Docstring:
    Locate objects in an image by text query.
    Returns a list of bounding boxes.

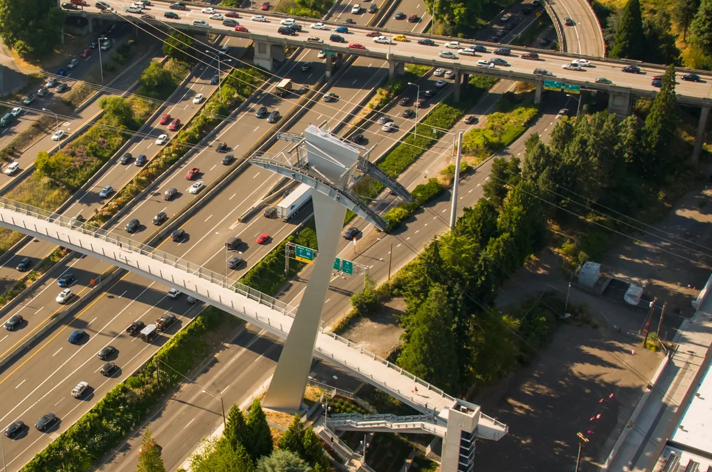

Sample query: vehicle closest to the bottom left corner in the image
[2,420,26,438]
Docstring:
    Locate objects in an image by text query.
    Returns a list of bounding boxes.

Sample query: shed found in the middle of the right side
[576,260,600,296]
